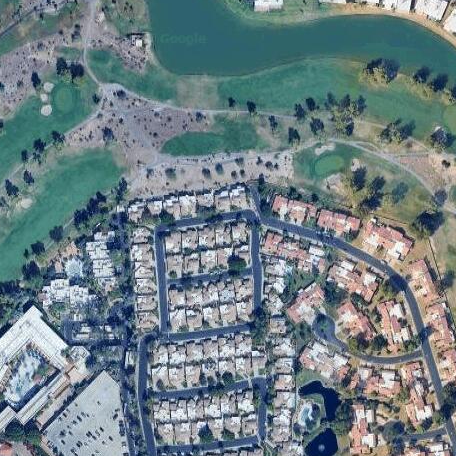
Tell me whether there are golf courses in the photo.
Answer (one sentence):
Yes, I can see a golf course in this picture.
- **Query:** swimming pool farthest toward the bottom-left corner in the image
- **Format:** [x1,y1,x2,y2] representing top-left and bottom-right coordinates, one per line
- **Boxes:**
[11,367,29,398]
